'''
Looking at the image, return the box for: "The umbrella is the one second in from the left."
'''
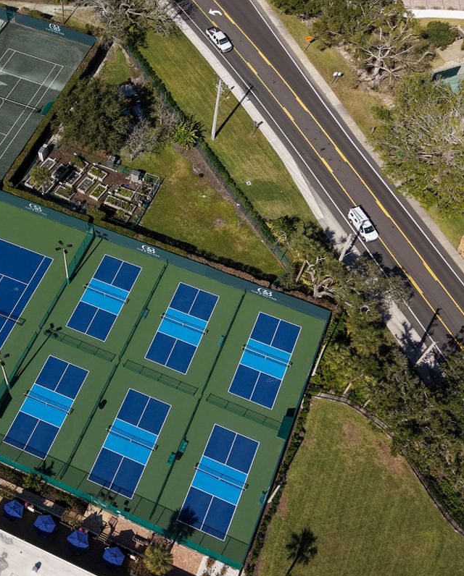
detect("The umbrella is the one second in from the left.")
[34,514,58,538]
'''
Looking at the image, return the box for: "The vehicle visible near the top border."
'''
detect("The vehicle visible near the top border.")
[205,25,234,49]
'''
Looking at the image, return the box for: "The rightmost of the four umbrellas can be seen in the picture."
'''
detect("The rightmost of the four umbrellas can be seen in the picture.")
[102,545,127,570]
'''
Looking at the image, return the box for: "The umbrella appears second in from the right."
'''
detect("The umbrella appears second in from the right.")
[67,528,91,554]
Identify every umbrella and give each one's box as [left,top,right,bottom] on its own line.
[2,500,26,524]
[67,528,91,554]
[34,514,58,538]
[102,545,127,570]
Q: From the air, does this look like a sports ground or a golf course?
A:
sports ground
